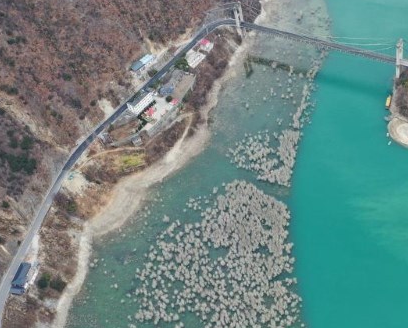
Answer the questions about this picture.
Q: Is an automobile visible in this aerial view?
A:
No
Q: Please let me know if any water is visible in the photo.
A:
Yes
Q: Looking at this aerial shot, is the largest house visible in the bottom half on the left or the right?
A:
left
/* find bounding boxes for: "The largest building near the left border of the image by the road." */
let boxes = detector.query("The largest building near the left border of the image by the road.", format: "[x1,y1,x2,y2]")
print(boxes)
[13,262,34,288]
